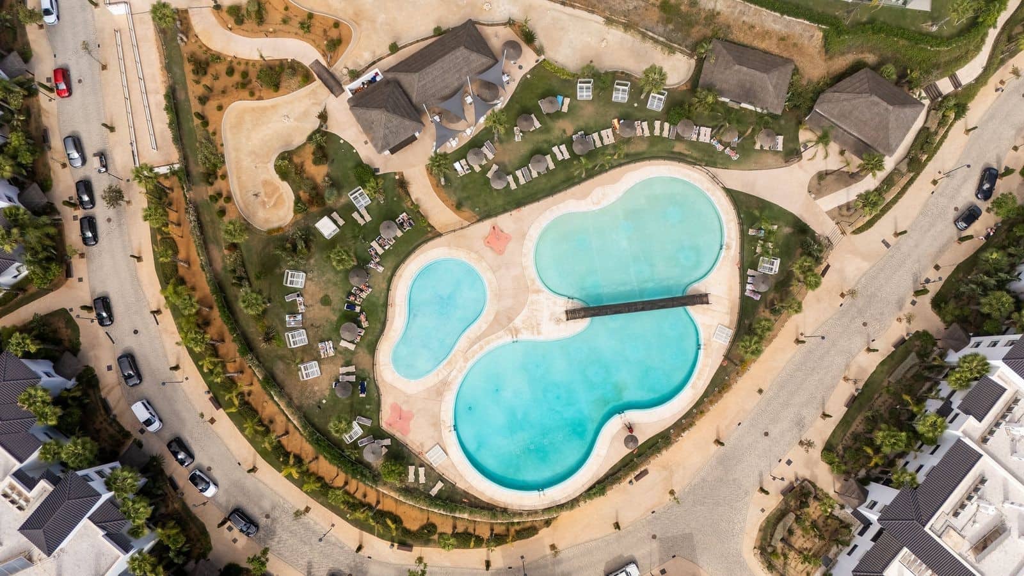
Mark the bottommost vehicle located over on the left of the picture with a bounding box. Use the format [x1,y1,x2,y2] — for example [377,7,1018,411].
[228,508,258,536]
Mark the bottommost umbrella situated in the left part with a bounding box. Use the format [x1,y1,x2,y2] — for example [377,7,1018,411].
[361,441,384,465]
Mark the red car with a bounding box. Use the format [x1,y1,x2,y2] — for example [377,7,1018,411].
[53,68,72,99]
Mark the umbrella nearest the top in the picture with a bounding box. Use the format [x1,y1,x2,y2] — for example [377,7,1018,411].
[501,39,523,61]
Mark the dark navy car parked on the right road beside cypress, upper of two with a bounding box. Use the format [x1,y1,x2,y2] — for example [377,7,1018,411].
[975,167,996,200]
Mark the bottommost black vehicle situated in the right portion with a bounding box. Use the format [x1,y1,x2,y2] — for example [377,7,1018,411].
[954,203,981,232]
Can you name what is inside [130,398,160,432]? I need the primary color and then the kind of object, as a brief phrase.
white car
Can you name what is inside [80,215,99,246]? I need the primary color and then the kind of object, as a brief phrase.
black car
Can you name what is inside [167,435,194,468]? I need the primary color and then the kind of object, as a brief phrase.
black car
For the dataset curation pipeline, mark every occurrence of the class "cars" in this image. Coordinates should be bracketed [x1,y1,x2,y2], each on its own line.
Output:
[80,215,99,246]
[77,179,96,210]
[41,0,60,22]
[53,68,72,99]
[93,295,113,327]
[228,508,258,536]
[120,354,141,386]
[167,435,194,468]
[66,135,86,167]
[188,468,217,498]
[130,398,160,432]
[954,203,981,232]
[975,167,996,200]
